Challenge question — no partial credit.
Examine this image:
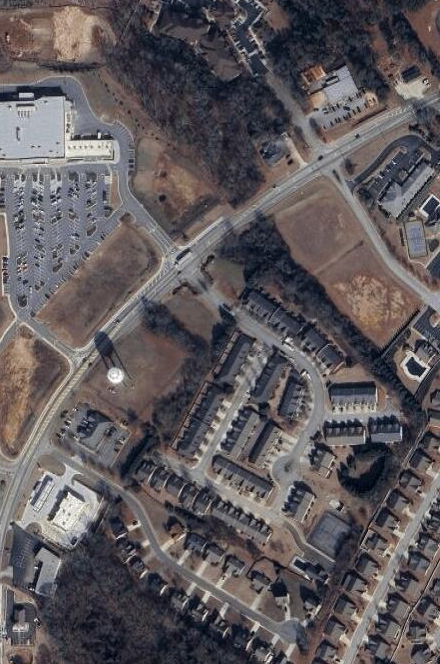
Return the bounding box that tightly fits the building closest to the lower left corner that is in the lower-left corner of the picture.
[11,611,30,642]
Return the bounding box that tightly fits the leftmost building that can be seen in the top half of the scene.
[0,96,65,167]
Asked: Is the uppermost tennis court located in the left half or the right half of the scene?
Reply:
right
